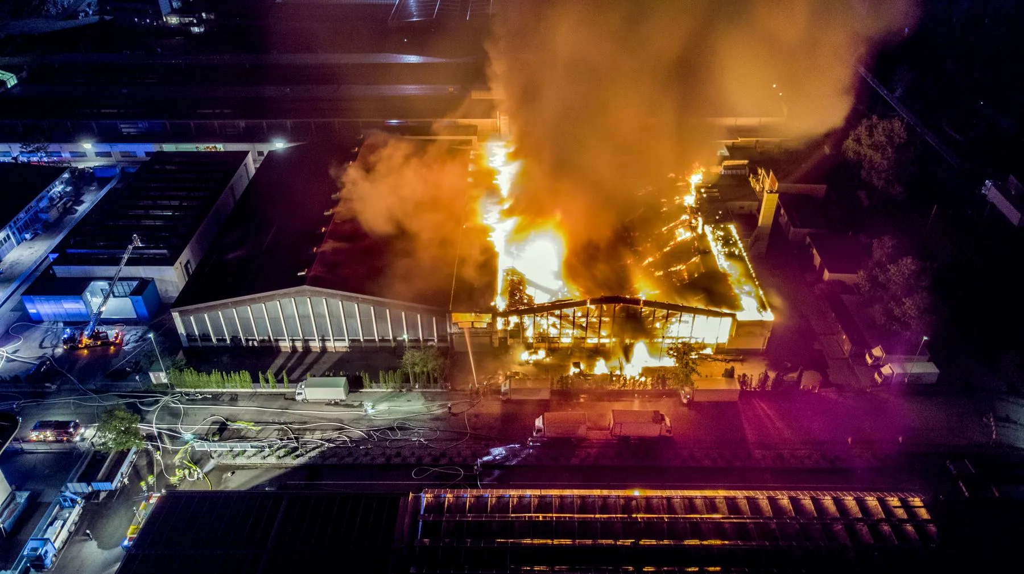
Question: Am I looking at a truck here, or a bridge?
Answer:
truck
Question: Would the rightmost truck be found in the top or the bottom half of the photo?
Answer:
top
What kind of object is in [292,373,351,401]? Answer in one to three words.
truck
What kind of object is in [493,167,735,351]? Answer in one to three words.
building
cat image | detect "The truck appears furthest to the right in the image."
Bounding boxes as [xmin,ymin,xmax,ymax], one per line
[975,175,1024,219]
